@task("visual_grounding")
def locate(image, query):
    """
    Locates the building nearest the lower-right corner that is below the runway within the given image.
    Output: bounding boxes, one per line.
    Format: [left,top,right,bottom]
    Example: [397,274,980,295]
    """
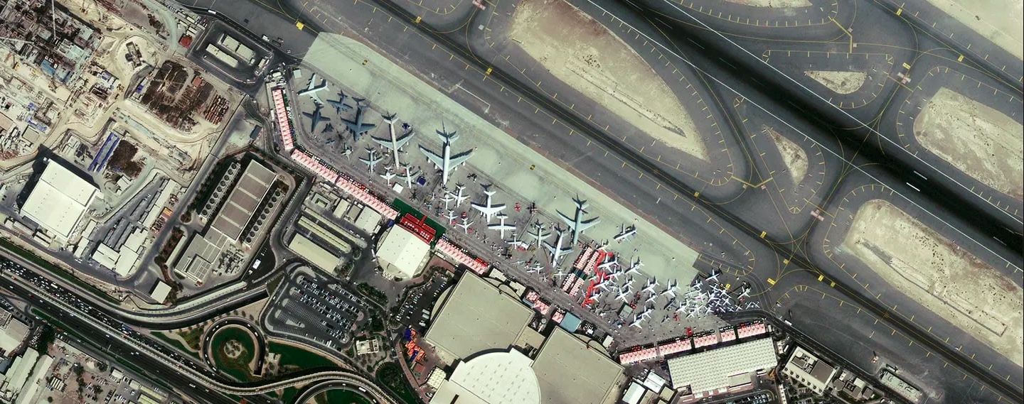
[880,370,922,402]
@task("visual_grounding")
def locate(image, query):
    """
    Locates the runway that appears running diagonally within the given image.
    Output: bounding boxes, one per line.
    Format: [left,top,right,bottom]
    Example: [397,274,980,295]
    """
[586,0,1024,273]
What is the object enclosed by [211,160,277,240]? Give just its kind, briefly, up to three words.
building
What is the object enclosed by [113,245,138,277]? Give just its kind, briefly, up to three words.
shed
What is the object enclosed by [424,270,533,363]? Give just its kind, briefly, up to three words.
building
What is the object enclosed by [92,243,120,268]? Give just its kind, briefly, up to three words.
shed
